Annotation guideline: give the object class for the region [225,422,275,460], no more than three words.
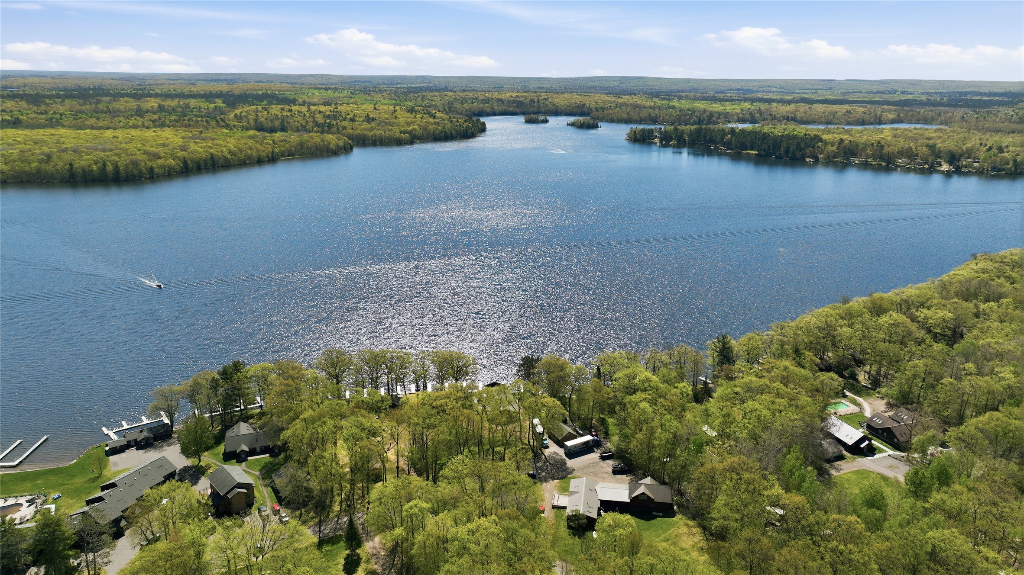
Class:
house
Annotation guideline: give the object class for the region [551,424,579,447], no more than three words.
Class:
building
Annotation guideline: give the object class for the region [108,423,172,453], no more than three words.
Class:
house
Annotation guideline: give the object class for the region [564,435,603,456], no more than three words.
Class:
truck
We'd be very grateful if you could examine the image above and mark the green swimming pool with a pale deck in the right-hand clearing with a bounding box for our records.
[825,399,860,415]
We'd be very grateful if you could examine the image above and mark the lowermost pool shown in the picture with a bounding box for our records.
[0,497,43,521]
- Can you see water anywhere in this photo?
Yes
